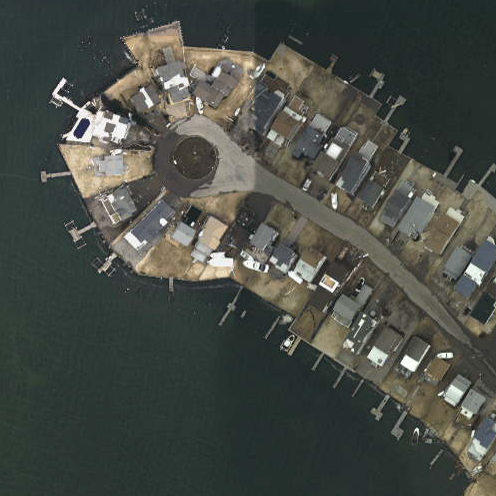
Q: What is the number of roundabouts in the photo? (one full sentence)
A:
The count comes to 1 roundabout.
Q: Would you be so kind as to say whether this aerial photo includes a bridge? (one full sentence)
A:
No, I can't see a single bridge in this photo.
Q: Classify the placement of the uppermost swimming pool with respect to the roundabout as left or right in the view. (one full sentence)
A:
Compared with the roundabout, the uppermost swimming pool is located further to the left.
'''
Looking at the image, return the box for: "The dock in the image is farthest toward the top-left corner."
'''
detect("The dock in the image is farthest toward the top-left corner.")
[49,77,96,112]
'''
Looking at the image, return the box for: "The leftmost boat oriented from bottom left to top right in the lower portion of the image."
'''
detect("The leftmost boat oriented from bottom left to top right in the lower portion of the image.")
[281,335,293,352]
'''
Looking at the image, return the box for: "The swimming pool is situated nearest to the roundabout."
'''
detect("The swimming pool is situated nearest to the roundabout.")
[65,109,93,143]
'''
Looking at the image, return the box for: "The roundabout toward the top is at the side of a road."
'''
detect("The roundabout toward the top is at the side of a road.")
[153,115,256,198]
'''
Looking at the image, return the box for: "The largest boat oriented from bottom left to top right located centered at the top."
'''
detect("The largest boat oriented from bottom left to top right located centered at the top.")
[250,63,264,79]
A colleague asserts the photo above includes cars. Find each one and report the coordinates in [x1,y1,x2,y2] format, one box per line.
[303,179,312,192]
[316,190,328,201]
[462,306,472,316]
